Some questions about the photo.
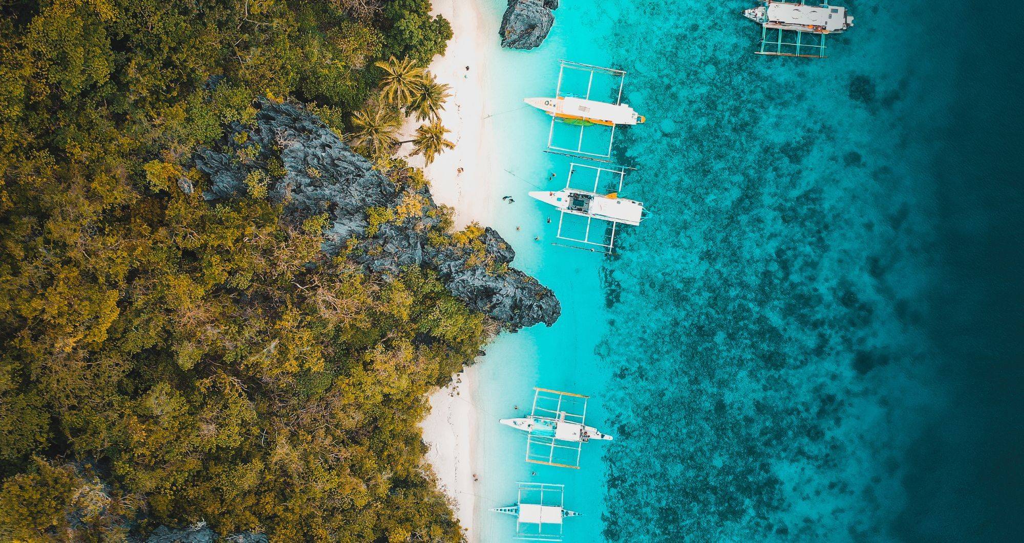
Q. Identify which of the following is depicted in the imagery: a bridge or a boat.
boat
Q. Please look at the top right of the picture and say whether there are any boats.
Yes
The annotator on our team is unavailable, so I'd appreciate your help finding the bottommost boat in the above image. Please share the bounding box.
[488,482,586,542]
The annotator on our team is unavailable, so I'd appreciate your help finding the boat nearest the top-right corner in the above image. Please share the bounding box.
[735,0,854,58]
